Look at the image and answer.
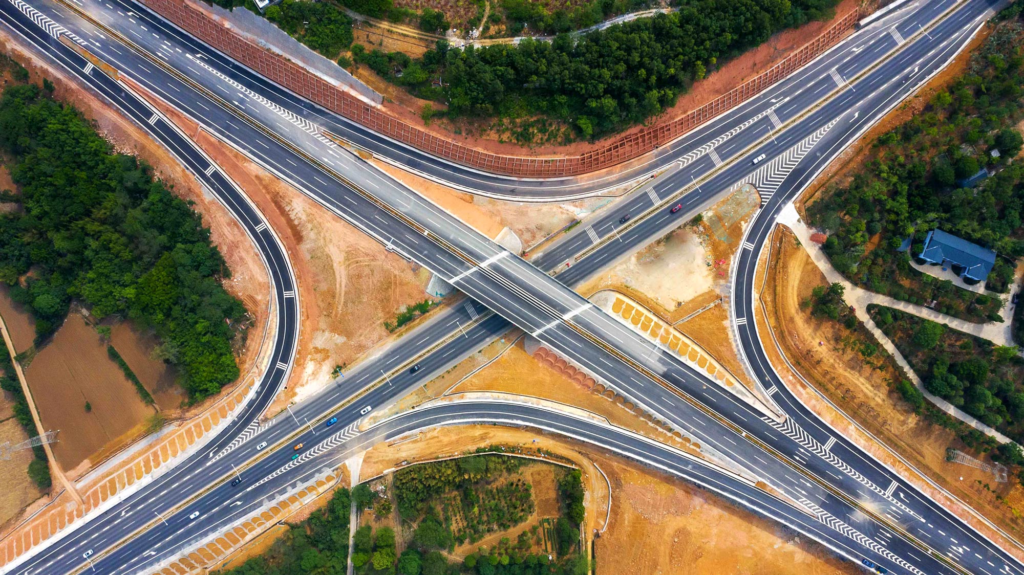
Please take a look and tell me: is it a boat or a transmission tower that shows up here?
transmission tower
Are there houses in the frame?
Yes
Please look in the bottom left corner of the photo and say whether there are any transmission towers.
Yes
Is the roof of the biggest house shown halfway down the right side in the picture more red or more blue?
blue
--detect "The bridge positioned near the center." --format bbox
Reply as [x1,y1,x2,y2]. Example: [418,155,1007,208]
[456,236,587,350]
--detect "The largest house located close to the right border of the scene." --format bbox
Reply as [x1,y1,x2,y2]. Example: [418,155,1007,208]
[923,228,998,285]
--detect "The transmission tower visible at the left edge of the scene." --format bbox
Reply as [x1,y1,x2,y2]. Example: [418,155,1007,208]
[1,428,61,458]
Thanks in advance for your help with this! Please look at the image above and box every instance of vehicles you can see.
[84,550,94,558]
[257,441,267,450]
[618,214,631,224]
[874,565,888,575]
[753,154,765,164]
[862,559,874,568]
[361,406,371,414]
[231,478,242,487]
[1011,292,1020,305]
[327,417,338,426]
[189,511,199,519]
[294,443,304,451]
[409,365,420,373]
[671,204,681,212]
